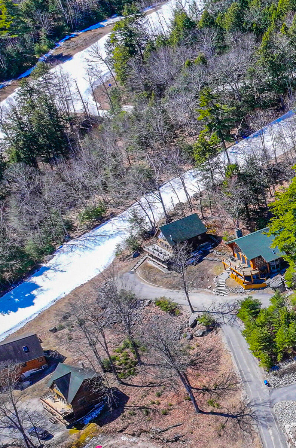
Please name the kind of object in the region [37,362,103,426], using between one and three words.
house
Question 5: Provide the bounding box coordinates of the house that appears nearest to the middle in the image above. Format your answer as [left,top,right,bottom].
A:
[144,213,208,271]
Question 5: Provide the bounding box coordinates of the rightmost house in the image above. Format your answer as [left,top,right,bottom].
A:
[223,225,293,288]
